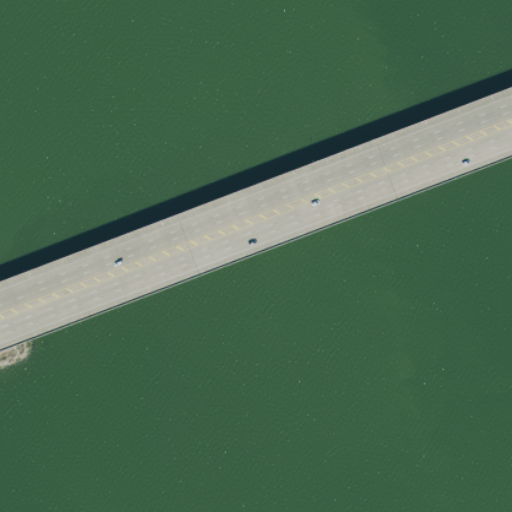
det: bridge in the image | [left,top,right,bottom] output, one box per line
[0,86,512,352]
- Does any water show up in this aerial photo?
Yes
